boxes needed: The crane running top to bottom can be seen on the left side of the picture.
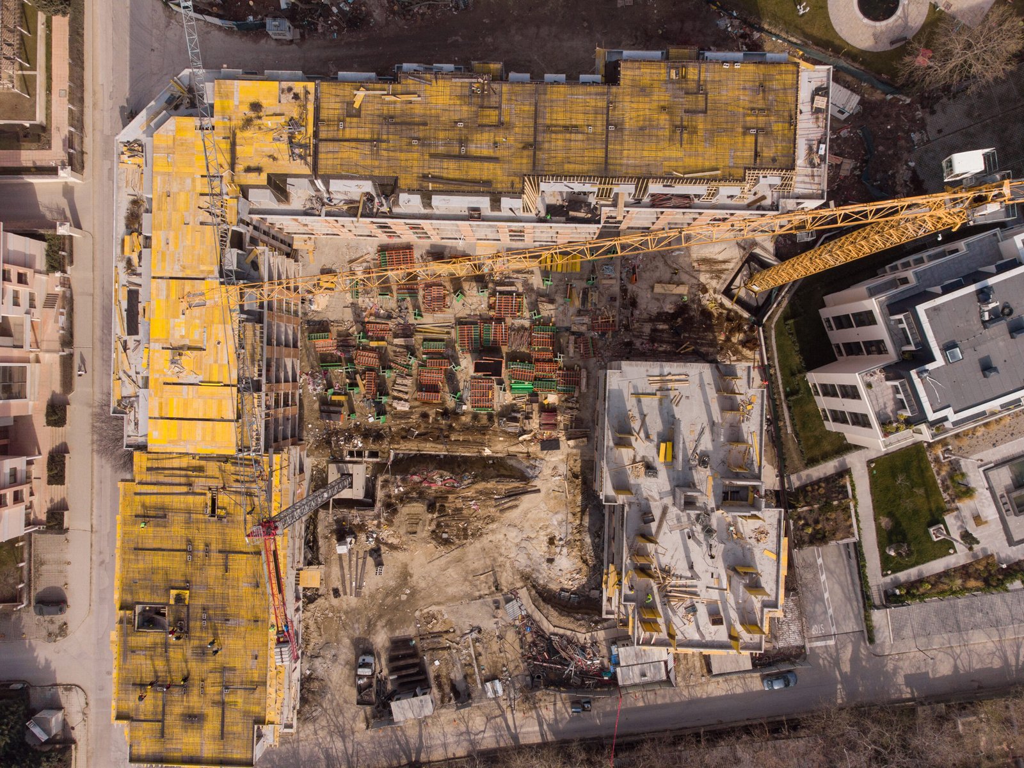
[176,0,370,676]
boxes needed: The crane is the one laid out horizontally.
[174,146,1024,320]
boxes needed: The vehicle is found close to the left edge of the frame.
[32,601,63,617]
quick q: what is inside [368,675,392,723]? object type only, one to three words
work vehicle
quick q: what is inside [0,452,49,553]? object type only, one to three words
house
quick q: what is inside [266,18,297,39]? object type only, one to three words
building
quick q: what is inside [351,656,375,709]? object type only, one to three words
truck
